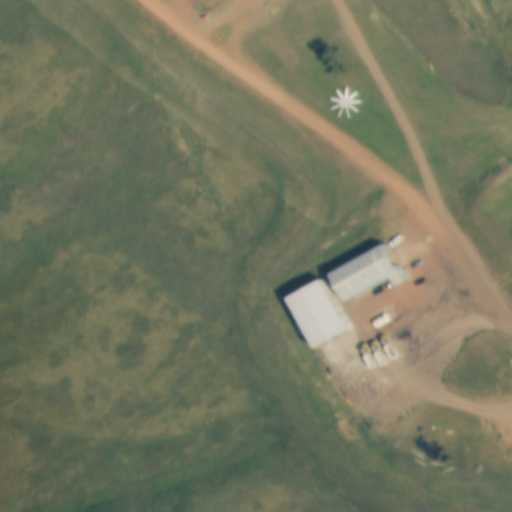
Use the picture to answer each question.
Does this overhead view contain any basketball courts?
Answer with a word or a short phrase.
No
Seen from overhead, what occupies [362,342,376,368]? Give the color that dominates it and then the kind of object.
white vehicle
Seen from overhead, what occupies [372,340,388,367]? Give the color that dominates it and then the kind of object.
white vehicle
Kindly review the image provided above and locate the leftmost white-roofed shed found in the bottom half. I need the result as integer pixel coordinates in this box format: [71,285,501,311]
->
[284,280,353,348]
